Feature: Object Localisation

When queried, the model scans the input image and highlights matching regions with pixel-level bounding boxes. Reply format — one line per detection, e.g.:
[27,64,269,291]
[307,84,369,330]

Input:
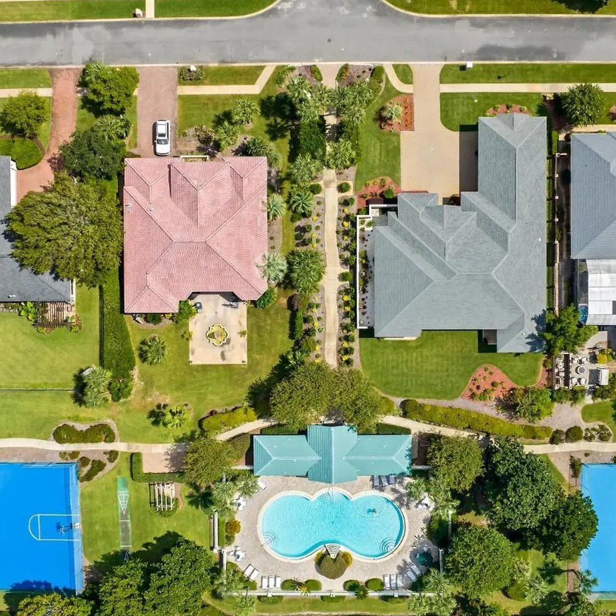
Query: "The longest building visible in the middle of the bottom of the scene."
[253,425,412,483]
